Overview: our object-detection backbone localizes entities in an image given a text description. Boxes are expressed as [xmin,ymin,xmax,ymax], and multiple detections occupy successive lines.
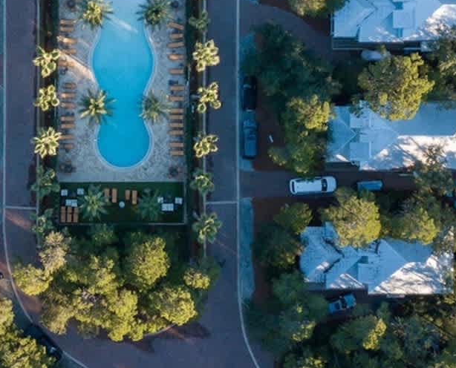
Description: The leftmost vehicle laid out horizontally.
[290,176,336,196]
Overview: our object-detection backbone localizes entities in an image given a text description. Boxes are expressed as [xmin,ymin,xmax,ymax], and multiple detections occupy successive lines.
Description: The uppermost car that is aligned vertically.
[241,72,260,113]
